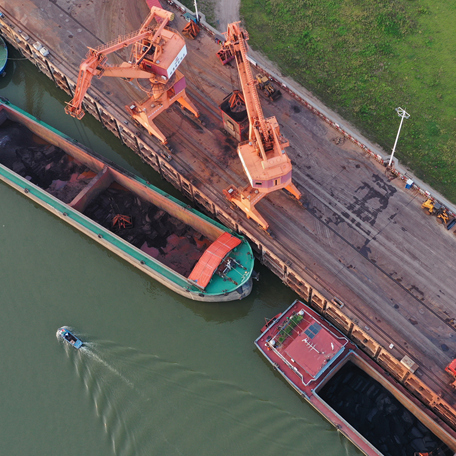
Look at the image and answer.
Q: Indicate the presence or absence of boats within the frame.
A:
Yes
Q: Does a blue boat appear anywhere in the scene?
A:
Yes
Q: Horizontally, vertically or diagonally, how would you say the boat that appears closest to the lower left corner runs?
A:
diagonally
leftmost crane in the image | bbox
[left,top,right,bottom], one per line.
[60,4,200,209]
